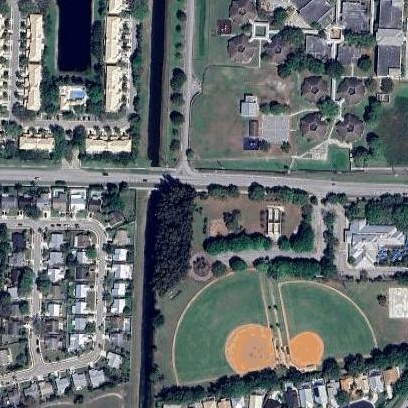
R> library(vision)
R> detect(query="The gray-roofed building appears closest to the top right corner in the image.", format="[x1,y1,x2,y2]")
[380,0,403,28]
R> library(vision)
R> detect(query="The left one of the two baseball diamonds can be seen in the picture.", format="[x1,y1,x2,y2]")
[173,269,279,383]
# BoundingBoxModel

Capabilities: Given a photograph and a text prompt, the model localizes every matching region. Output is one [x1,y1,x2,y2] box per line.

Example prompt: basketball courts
[263,115,288,141]
[389,288,408,317]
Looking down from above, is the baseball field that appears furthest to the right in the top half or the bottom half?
bottom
